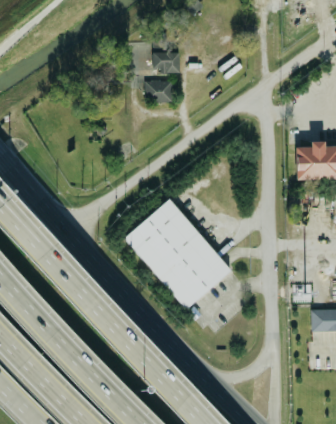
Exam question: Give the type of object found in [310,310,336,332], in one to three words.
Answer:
building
